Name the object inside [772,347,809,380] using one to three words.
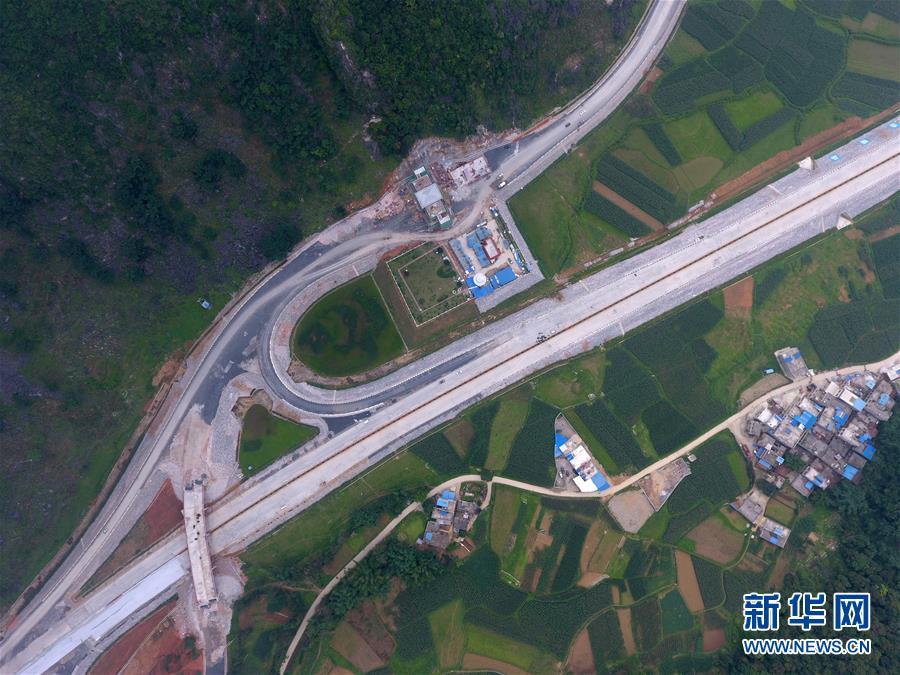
house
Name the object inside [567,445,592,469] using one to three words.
house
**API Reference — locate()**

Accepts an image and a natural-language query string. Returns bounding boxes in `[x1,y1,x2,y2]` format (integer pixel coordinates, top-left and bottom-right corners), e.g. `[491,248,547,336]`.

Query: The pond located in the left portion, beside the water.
[292,273,403,378]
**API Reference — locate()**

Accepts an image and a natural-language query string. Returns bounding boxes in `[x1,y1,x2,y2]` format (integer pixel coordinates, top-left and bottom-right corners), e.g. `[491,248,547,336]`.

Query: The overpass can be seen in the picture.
[183,483,224,606]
